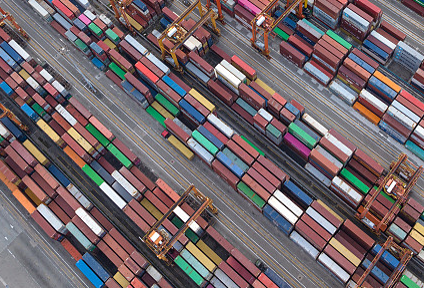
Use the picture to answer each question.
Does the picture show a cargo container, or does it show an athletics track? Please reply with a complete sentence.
Visible in the photo is a cargo container.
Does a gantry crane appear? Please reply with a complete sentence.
Yes, there's a gantry crane down there.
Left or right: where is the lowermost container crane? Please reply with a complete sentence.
The lowermost container crane sits on the right side.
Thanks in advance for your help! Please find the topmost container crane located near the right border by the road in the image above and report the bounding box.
[350,152,424,244]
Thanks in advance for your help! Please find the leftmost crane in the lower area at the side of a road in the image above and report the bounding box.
[138,179,223,272]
